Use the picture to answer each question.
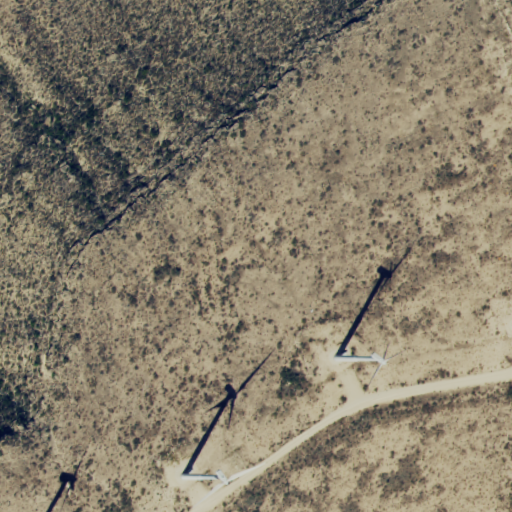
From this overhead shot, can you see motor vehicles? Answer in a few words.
No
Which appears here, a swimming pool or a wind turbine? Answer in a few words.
wind turbine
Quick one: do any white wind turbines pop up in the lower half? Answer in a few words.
Yes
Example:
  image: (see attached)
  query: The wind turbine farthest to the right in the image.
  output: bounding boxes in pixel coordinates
[333,348,403,398]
